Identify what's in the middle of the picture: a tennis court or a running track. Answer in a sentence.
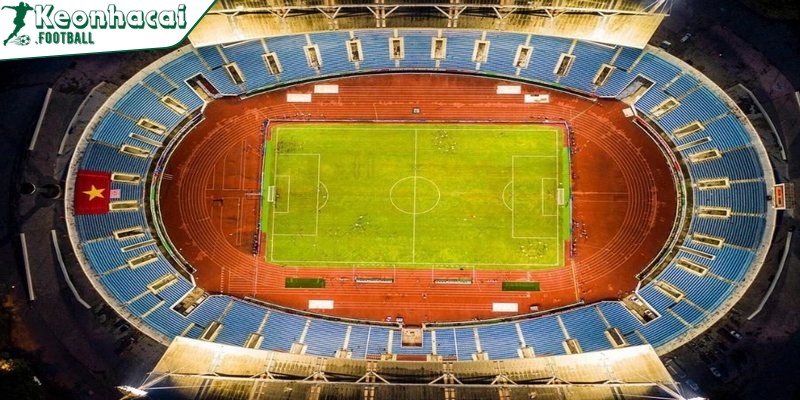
The one visible in the middle of the picture is a running track.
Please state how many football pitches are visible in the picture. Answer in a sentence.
Just 1 football pitch appears in this view.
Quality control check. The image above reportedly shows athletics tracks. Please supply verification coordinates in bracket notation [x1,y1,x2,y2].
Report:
[159,80,679,321]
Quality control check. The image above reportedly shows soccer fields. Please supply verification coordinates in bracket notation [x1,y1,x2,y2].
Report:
[261,123,571,270]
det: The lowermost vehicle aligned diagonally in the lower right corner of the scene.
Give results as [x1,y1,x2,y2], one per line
[683,373,709,400]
